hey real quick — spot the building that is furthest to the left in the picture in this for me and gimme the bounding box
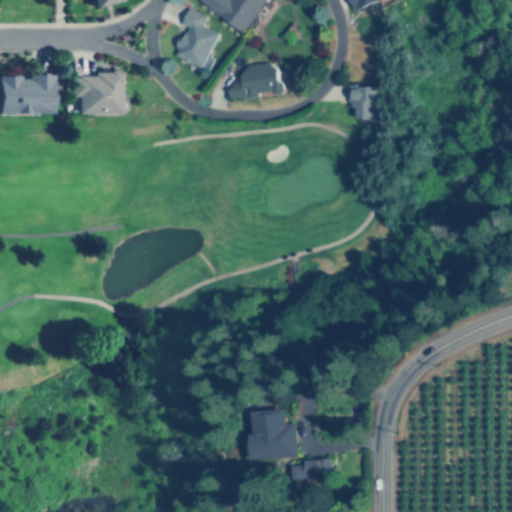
[4,73,60,116]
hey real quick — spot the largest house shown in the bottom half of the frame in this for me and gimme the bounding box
[248,410,297,461]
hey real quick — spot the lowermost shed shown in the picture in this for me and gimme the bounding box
[292,458,333,480]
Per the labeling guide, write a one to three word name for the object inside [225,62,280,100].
house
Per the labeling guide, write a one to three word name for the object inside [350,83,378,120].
house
